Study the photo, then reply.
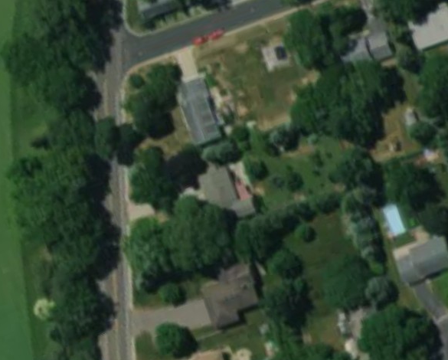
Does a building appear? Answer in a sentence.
Yes, there's a building down there.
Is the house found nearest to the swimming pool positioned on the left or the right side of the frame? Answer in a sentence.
You can find the house found nearest to the swimming pool on the right side of the picture.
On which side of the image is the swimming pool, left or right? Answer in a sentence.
You can find the swimming pool on the right side of the picture.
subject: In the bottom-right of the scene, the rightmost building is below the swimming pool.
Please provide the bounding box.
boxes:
[399,240,448,285]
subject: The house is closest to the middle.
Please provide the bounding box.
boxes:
[205,165,255,218]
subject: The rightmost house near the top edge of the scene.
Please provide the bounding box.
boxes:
[410,4,448,49]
